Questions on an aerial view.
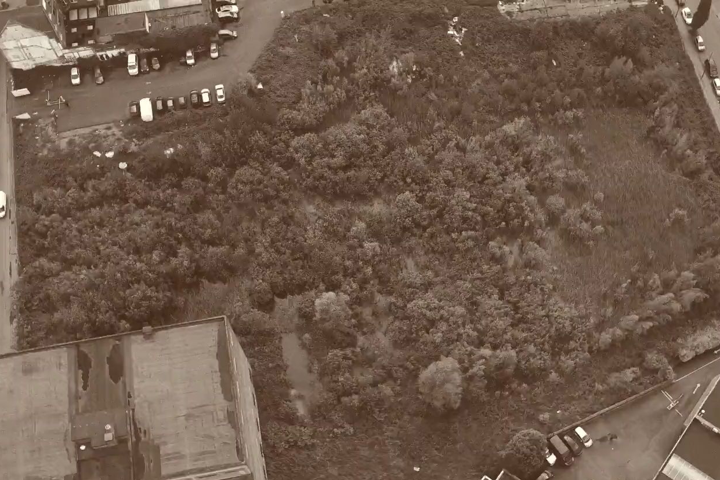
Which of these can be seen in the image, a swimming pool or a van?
van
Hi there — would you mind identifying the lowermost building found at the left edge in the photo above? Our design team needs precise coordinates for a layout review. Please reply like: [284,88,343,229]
[0,315,261,480]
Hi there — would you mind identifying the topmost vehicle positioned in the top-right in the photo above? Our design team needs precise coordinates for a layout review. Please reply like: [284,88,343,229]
[681,9,694,24]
